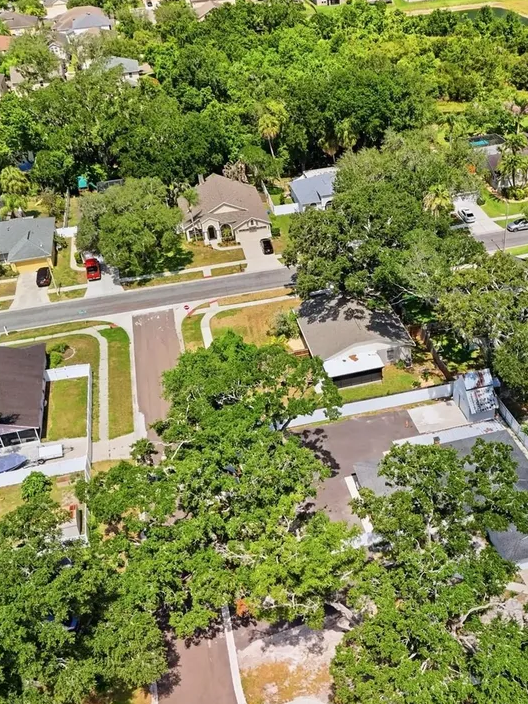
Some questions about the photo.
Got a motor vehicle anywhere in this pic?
Yes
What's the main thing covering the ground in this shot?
trees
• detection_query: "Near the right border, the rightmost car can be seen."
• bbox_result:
[504,216,528,232]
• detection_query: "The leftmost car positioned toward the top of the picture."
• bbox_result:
[34,270,49,285]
